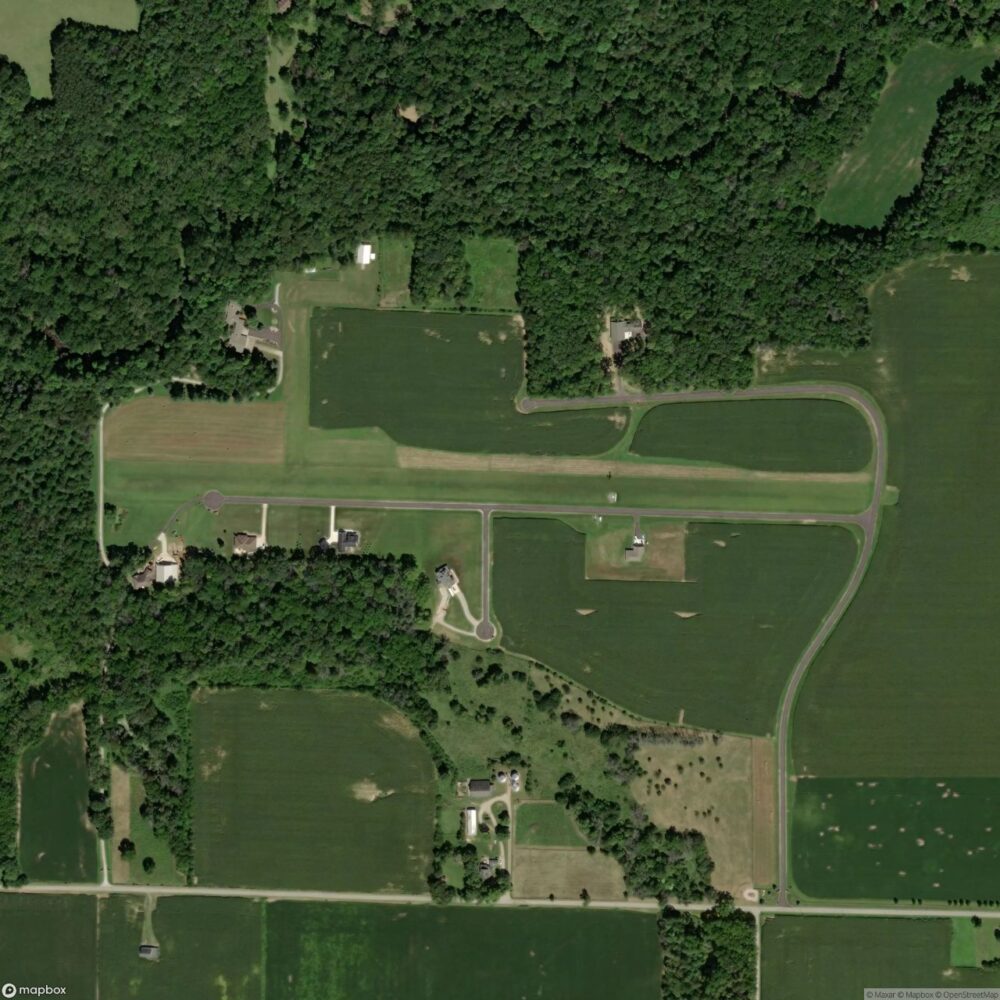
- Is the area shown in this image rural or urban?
rural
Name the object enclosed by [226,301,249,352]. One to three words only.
house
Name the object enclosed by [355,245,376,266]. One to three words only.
barn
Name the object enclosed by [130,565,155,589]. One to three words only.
house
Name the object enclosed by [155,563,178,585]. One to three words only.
hangar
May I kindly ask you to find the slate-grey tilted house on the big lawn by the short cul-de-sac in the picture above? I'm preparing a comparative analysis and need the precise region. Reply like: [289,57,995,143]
[435,565,458,591]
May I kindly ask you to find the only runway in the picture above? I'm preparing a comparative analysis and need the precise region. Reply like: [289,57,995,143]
[104,302,866,512]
